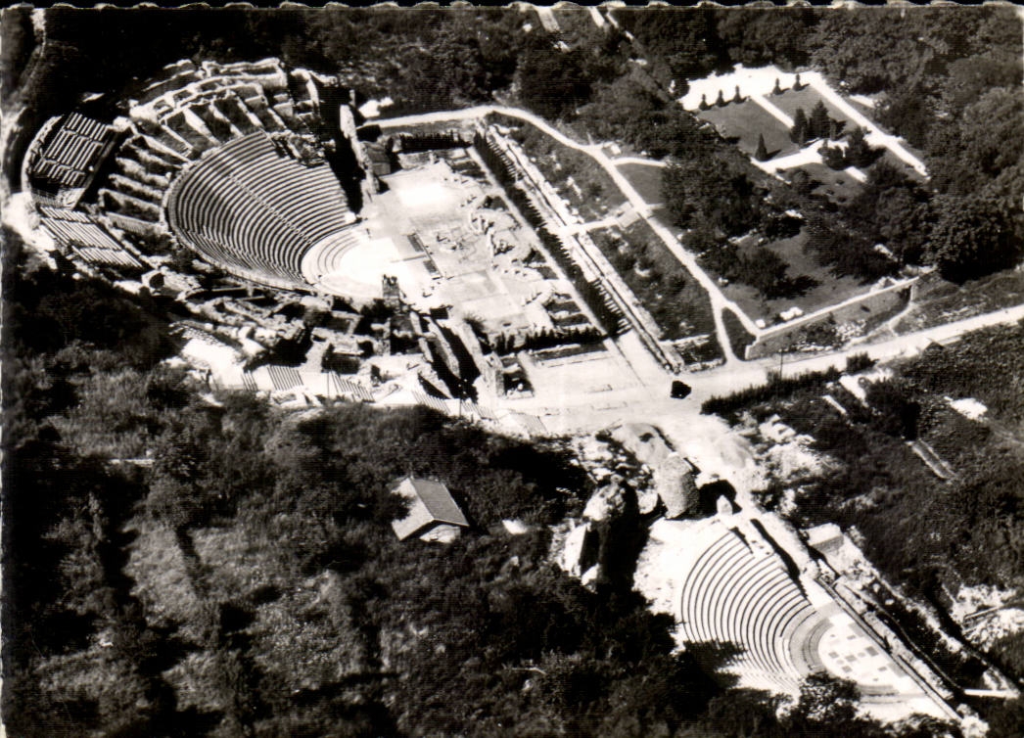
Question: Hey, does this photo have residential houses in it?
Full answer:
Yes, you can see a residential house in this photo.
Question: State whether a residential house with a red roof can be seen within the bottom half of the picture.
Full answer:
No, no residential house with a red roof appears within the bottom half of the picture.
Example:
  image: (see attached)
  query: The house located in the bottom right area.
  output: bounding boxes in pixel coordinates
[804,525,844,560]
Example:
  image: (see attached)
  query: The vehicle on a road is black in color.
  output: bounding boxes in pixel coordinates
[670,377,693,396]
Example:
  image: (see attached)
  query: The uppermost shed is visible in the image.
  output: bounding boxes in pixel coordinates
[360,117,381,143]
